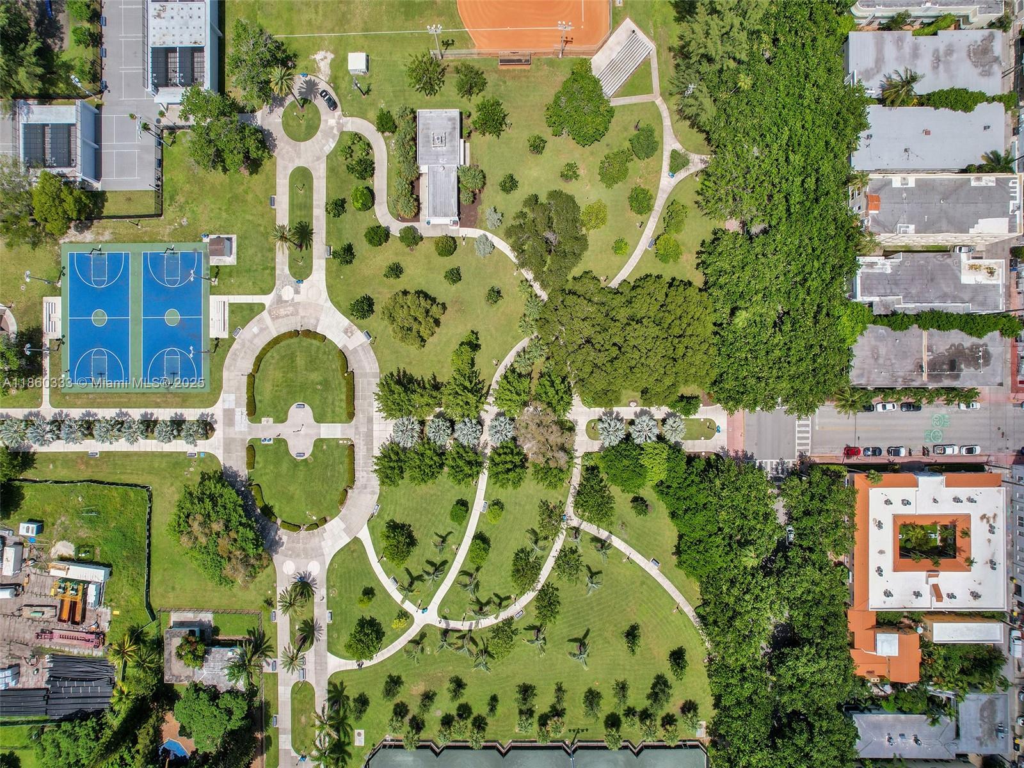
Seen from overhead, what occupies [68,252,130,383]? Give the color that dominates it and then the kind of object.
blue basketball court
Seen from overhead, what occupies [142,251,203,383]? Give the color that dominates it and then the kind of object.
blue basketball court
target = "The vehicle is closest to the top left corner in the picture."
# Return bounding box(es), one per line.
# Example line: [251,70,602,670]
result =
[318,86,337,109]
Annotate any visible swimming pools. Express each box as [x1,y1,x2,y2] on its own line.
[157,737,189,768]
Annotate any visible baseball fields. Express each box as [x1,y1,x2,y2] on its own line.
[281,0,609,54]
